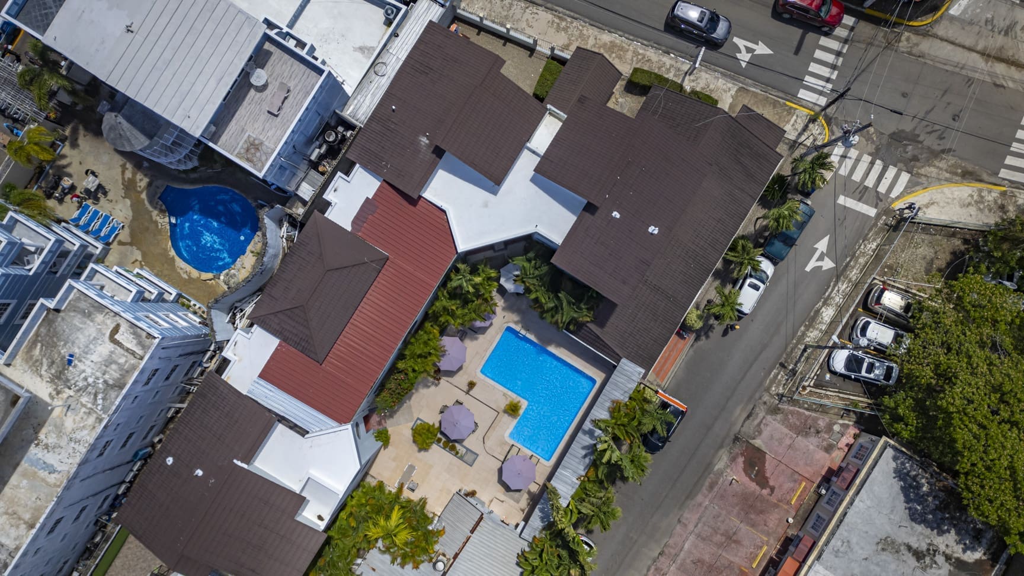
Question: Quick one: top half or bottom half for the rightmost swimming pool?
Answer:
bottom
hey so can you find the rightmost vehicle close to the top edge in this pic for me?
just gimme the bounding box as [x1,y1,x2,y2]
[769,0,842,33]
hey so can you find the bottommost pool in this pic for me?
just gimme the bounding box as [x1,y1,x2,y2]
[481,327,597,461]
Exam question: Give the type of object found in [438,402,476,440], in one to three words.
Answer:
umbrella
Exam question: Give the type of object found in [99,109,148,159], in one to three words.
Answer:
umbrella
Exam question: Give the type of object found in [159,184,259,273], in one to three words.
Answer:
swimming pool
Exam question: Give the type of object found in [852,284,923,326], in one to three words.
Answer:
car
